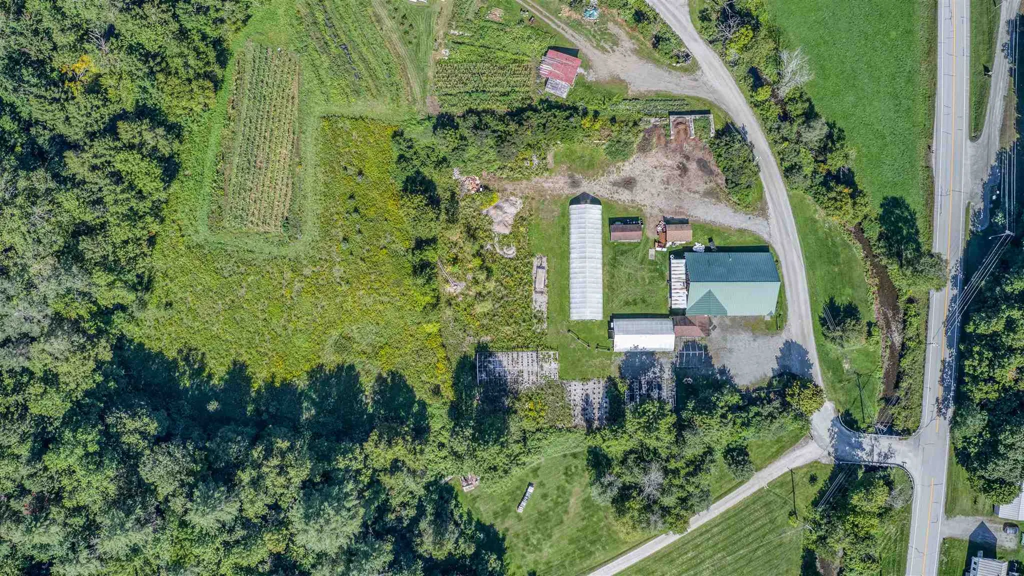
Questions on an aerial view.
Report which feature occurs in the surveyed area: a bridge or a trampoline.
bridge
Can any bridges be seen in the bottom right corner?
Yes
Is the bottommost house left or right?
right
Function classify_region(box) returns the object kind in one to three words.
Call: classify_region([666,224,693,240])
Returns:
shed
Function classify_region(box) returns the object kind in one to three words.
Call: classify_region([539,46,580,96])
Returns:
shed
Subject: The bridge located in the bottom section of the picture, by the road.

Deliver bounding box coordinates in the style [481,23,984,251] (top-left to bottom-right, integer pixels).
[848,433,905,465]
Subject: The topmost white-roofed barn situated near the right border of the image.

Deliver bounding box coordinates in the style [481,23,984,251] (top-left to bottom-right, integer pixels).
[993,491,1024,522]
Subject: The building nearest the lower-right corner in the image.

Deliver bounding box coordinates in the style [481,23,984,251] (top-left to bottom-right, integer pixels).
[964,547,1012,576]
